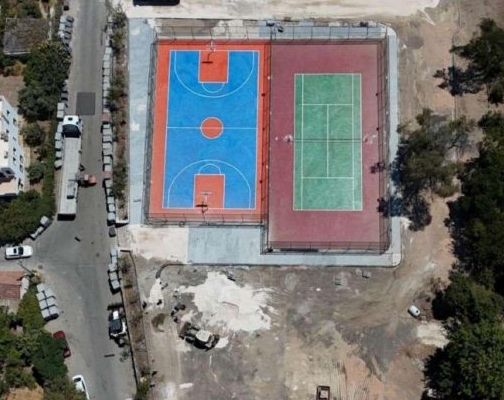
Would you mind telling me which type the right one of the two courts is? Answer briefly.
tennis court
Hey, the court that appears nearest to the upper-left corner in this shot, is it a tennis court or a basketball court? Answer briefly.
basketball court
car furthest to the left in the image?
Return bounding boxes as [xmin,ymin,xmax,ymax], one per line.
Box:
[5,245,34,259]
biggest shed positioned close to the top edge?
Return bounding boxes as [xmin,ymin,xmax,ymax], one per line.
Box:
[4,17,50,60]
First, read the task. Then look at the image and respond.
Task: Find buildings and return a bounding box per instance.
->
[4,17,50,60]
[0,94,24,200]
[0,271,33,315]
